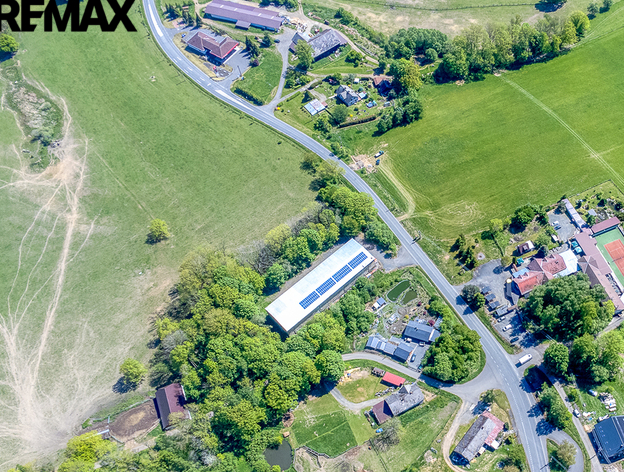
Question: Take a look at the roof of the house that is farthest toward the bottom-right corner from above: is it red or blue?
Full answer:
The roof of the house that is farthest toward the bottom-right corner is blue.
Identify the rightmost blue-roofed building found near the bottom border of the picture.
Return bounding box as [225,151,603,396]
[591,416,624,461]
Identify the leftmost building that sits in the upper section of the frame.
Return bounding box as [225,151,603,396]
[186,33,239,62]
